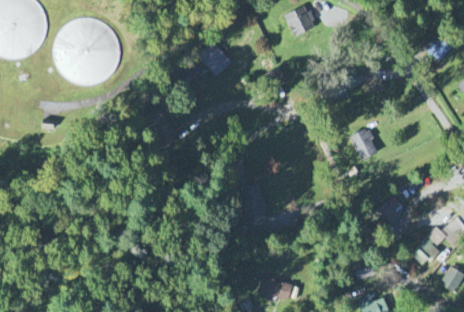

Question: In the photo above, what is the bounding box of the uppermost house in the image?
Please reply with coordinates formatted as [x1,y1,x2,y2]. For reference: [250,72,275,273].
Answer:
[285,6,316,37]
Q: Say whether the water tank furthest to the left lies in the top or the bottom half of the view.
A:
top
